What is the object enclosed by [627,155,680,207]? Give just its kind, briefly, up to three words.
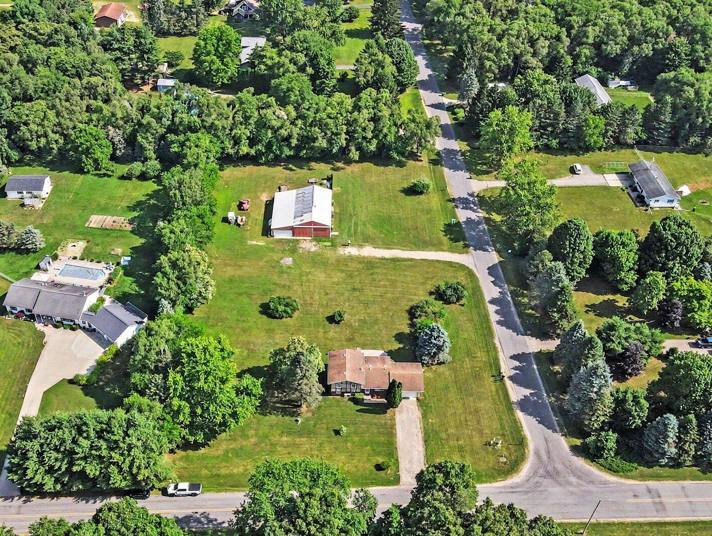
house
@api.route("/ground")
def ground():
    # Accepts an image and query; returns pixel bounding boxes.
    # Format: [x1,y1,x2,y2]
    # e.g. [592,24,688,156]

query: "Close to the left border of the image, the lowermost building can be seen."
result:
[1,278,146,344]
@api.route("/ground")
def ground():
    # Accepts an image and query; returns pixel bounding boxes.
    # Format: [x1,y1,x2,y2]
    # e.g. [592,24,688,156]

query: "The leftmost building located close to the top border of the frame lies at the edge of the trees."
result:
[98,2,131,27]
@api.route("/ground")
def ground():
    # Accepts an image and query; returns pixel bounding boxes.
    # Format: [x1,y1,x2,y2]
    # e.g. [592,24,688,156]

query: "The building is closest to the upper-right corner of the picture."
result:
[574,73,619,114]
